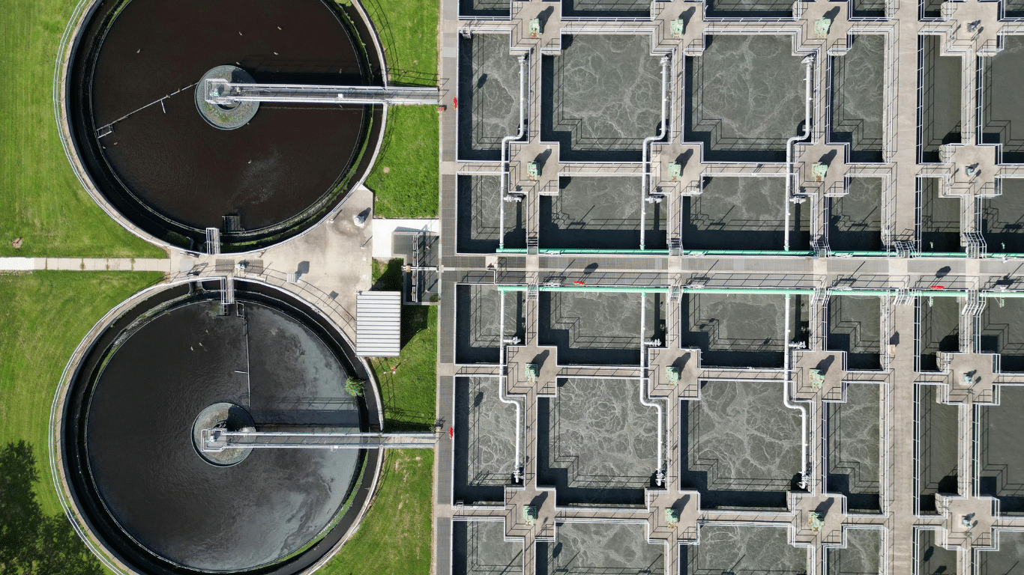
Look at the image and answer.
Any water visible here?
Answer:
Yes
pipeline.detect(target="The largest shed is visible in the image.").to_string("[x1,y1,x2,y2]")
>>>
[356,290,401,358]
